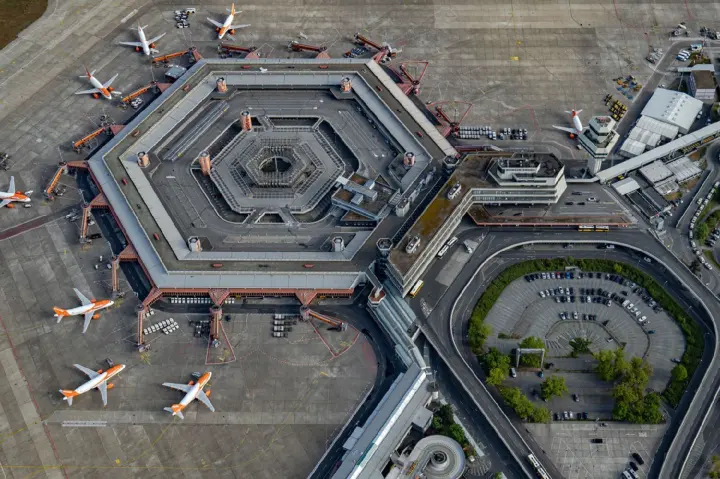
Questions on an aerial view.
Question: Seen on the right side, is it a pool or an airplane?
airplane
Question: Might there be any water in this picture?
No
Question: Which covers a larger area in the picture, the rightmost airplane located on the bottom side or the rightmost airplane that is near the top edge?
the rightmost airplane located on the bottom side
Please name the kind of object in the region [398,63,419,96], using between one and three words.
jet bridge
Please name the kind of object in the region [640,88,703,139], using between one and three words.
hangar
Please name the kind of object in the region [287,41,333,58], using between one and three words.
jet bridge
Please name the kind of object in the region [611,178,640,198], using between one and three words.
shed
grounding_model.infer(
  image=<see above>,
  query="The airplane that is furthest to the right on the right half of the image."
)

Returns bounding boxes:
[553,104,584,139]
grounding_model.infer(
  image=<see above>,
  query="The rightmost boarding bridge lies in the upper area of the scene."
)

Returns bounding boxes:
[433,103,458,136]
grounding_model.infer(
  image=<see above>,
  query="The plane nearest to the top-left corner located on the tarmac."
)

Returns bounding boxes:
[76,67,119,99]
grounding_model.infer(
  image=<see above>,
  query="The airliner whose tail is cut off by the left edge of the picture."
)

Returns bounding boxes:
[0,177,30,209]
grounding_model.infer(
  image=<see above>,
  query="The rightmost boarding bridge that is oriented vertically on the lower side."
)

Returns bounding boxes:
[207,290,230,345]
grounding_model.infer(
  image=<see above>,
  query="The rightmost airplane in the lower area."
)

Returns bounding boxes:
[164,372,214,419]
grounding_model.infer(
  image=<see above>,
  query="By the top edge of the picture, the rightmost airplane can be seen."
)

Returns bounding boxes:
[208,3,249,37]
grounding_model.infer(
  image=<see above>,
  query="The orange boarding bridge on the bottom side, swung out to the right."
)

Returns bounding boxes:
[295,290,347,330]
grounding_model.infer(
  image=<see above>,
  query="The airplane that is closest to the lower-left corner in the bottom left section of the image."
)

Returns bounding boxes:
[59,364,125,407]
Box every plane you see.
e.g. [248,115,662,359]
[121,20,165,53]
[0,177,30,209]
[208,3,249,37]
[76,67,119,99]
[553,104,584,139]
[59,364,125,407]
[164,372,214,419]
[53,288,113,333]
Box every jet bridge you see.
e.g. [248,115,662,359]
[287,41,333,58]
[218,41,263,58]
[110,240,138,297]
[69,121,125,151]
[118,79,173,106]
[44,159,91,196]
[433,103,458,136]
[135,283,167,352]
[352,32,389,65]
[207,290,230,345]
[398,63,419,96]
[79,191,110,243]
[149,46,204,65]
[295,290,347,330]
